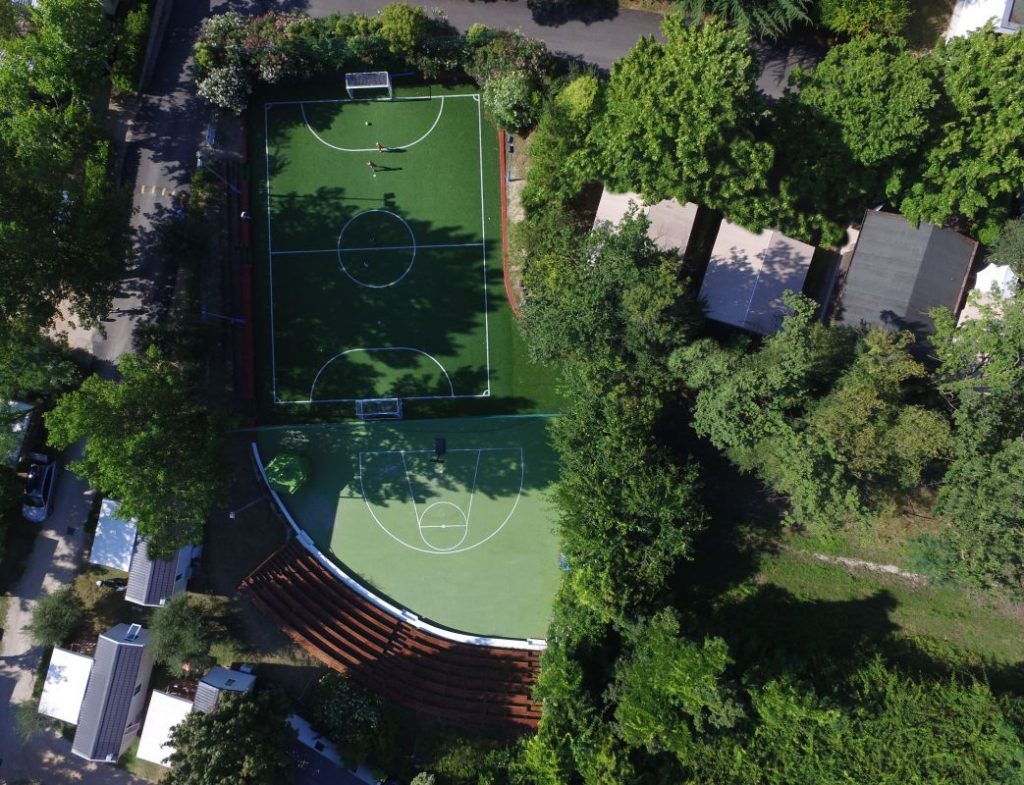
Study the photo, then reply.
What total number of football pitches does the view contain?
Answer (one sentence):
In total, 1 football pitch can be seen.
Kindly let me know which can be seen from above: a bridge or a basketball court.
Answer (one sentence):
The one in the frame is a basketball court.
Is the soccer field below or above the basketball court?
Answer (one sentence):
Relative to the basketball court, the soccer field lies above it.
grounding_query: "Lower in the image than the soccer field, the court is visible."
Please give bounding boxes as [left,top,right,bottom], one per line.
[254,416,569,638]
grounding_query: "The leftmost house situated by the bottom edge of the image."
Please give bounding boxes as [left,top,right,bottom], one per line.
[71,625,159,763]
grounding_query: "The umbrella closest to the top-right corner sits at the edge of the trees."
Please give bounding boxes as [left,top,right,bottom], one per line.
[967,258,1019,305]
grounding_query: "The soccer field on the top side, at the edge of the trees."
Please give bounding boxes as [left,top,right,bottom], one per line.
[251,72,574,431]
